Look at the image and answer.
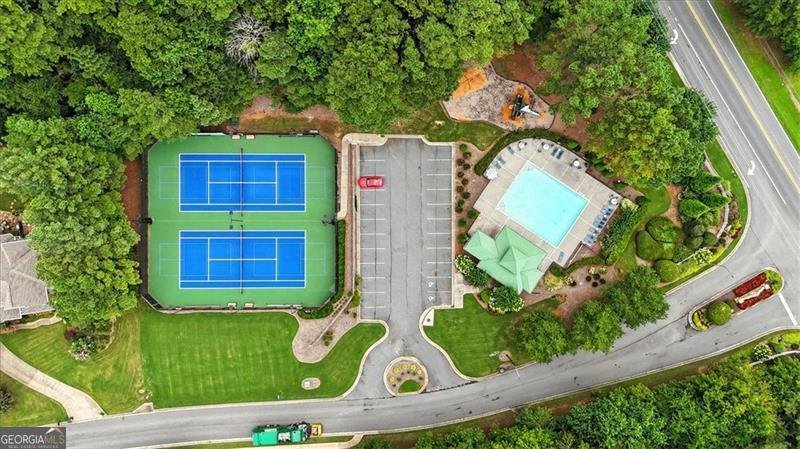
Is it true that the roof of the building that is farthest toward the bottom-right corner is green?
Yes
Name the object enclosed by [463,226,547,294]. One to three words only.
building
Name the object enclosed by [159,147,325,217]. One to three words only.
tennis court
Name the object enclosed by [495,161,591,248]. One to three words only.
swimming pool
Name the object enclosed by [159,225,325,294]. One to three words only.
tennis court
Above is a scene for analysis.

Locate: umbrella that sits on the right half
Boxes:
[487,166,500,179]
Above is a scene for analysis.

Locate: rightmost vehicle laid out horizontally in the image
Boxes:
[358,175,384,188]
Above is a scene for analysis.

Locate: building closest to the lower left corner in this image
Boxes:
[0,233,56,322]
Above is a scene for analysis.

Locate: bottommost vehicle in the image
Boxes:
[252,424,323,447]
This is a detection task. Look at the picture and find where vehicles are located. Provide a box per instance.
[358,175,384,188]
[252,424,323,447]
